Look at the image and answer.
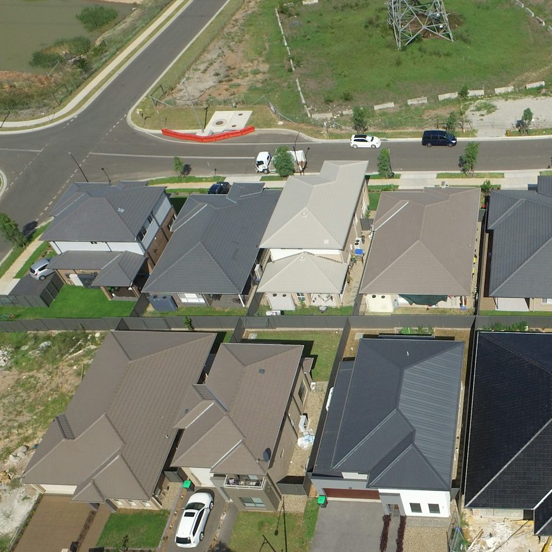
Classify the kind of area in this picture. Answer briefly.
residential area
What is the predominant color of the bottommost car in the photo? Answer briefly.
white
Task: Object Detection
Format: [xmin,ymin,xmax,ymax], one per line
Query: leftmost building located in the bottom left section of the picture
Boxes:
[19,330,217,509]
